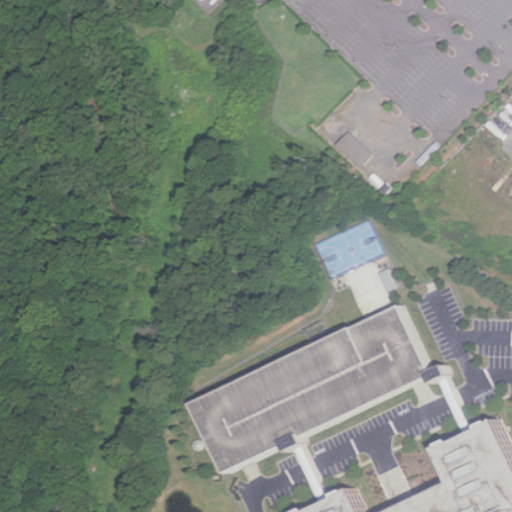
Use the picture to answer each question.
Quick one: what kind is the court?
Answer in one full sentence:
Specifically, the court is a basketball court.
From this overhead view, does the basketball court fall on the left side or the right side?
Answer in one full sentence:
You can find the basketball court on the right side of the picture.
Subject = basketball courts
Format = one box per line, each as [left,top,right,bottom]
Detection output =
[316,220,384,278]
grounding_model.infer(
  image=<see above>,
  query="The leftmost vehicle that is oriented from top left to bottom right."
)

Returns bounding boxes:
[368,174,390,192]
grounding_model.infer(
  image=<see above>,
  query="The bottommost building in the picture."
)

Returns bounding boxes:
[294,418,512,512]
